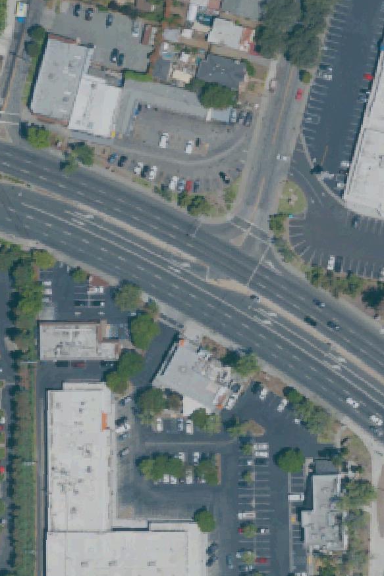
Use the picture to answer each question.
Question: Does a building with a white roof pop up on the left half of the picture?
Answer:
Yes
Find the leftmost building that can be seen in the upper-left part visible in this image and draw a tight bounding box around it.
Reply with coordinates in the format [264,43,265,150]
[31,33,95,129]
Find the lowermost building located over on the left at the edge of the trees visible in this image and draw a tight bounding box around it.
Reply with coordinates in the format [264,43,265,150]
[45,379,208,576]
